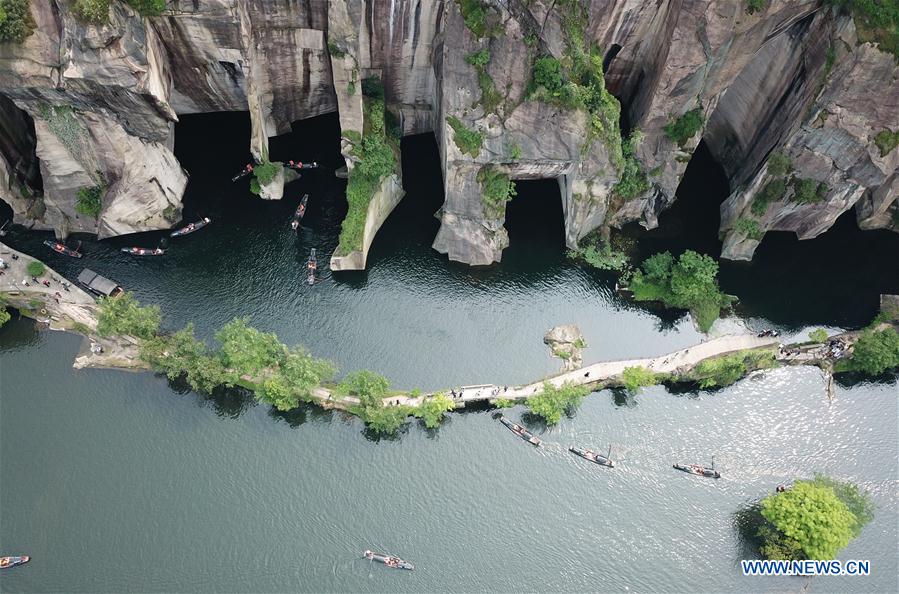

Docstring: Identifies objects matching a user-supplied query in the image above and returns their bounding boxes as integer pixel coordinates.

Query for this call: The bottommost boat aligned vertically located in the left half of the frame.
[308,247,322,285]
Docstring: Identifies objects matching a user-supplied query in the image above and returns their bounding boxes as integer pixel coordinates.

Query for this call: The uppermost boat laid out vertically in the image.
[292,193,306,233]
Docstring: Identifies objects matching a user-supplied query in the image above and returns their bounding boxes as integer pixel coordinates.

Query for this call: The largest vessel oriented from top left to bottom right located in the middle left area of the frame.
[69,259,126,302]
